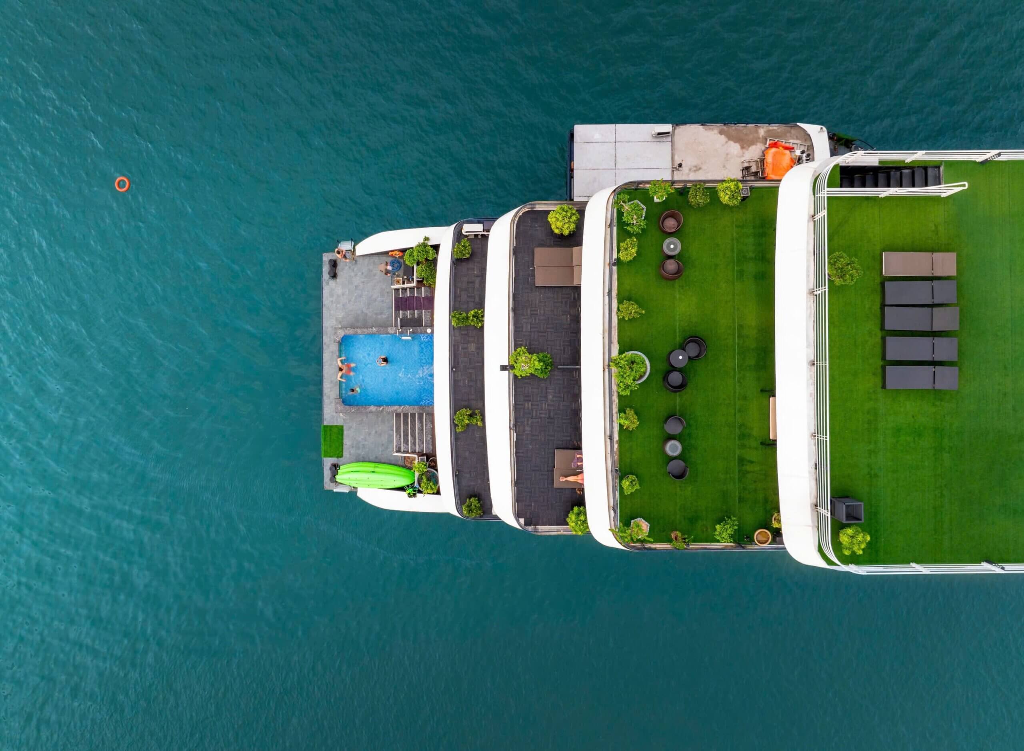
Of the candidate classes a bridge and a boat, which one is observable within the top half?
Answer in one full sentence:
It is a boat that can be seen within the top half.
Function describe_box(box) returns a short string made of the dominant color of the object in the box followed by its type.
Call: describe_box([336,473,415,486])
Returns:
green boat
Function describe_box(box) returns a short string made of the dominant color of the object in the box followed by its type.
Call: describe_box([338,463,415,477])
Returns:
green boat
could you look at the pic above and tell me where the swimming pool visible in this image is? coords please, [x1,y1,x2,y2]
[334,319,434,413]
